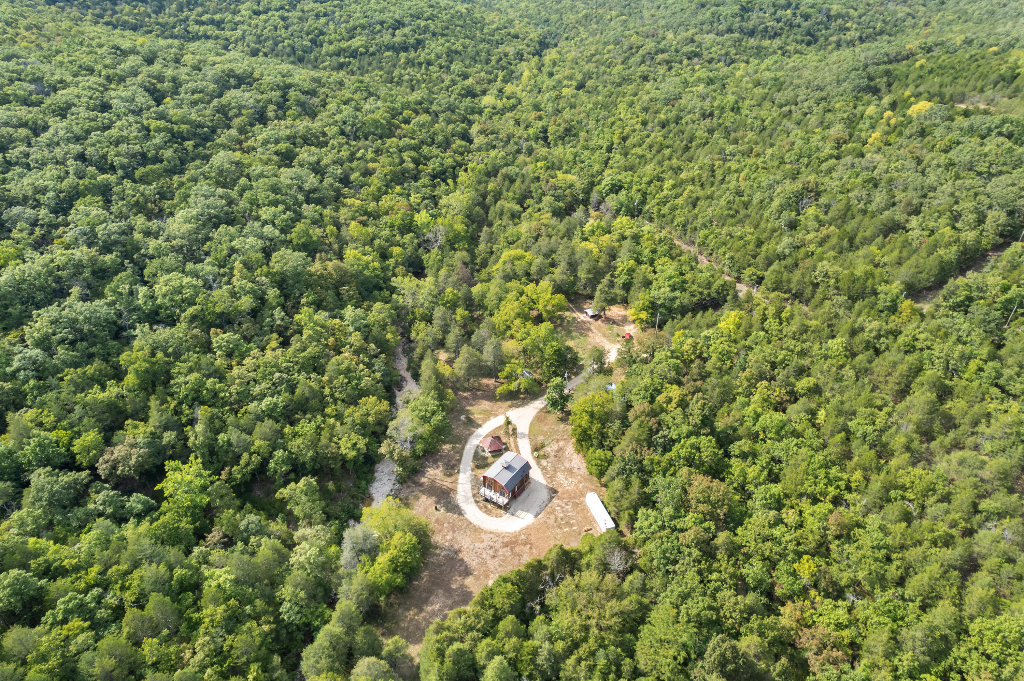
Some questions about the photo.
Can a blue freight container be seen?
No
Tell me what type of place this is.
forest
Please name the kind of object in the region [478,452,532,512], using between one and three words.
house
